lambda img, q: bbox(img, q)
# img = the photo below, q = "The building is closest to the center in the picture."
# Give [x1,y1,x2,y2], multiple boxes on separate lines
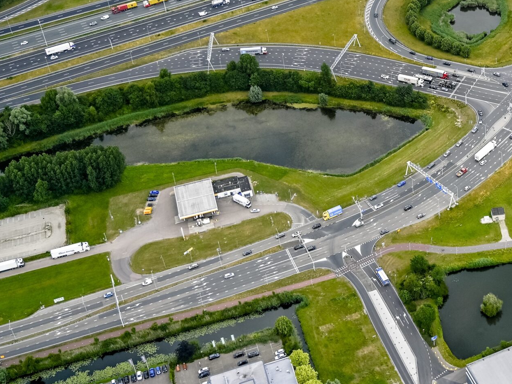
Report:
[211,176,253,201]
